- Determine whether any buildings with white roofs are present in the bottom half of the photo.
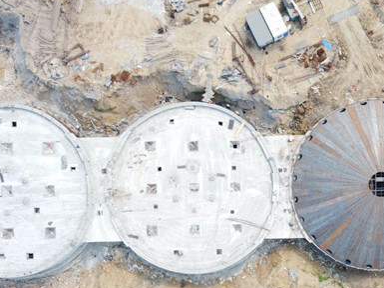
No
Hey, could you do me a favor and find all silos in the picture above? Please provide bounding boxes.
[0,105,93,278]
[104,101,276,274]
[290,98,384,272]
